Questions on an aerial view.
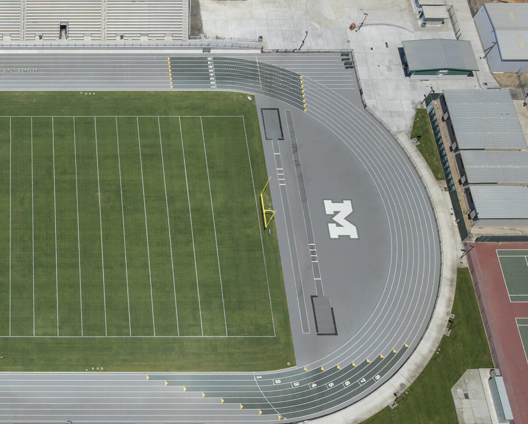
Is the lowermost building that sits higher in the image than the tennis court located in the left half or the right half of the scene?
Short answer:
right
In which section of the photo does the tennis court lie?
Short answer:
bottom right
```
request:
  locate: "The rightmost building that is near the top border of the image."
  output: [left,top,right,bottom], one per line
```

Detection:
[474,2,528,72]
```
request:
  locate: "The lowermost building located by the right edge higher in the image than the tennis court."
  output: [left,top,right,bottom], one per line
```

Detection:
[464,185,528,226]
